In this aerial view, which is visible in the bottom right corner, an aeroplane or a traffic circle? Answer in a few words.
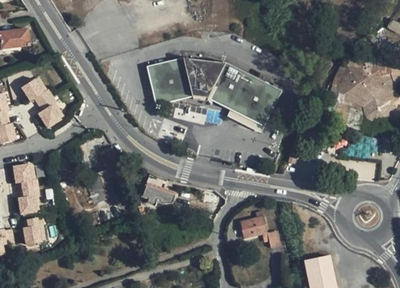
traffic circle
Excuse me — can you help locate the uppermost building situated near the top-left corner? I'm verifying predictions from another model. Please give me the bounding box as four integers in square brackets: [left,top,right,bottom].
[0,27,31,48]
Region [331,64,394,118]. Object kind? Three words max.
house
